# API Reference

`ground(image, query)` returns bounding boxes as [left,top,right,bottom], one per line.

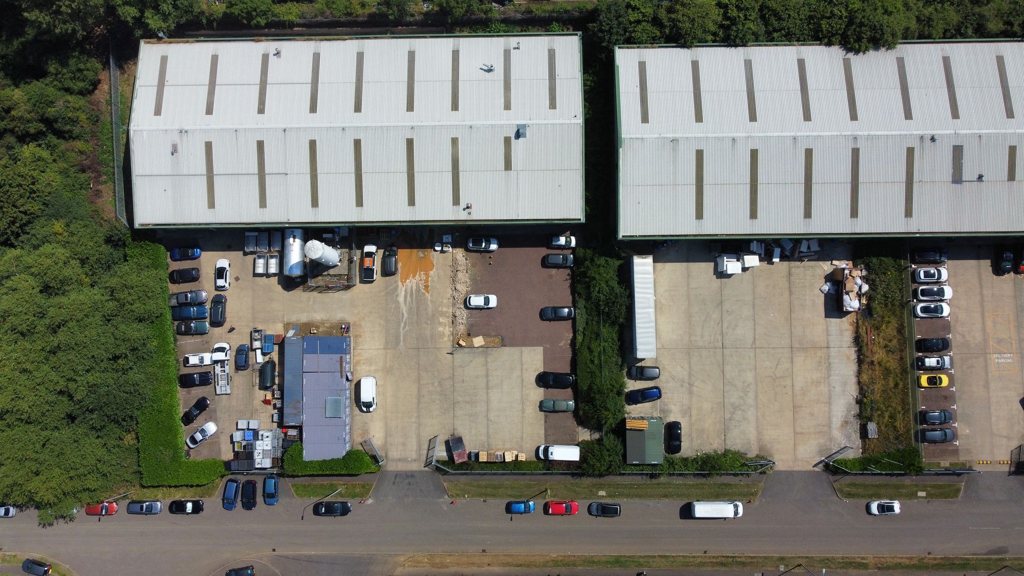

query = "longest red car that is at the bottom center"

[545,500,579,516]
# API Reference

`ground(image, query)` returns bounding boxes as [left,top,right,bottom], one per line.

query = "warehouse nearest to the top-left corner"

[128,32,586,234]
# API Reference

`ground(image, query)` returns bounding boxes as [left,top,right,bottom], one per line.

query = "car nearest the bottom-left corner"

[22,556,54,576]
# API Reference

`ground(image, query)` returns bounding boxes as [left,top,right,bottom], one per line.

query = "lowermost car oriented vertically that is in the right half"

[667,421,683,455]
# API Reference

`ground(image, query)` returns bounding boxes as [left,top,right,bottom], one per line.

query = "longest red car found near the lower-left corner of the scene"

[86,500,120,517]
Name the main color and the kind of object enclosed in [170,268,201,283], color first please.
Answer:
black car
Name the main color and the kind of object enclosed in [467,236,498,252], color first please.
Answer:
black car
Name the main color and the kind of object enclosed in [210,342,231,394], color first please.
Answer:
white truck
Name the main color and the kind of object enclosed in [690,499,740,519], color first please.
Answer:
white vehicle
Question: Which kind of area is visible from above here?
industrial area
